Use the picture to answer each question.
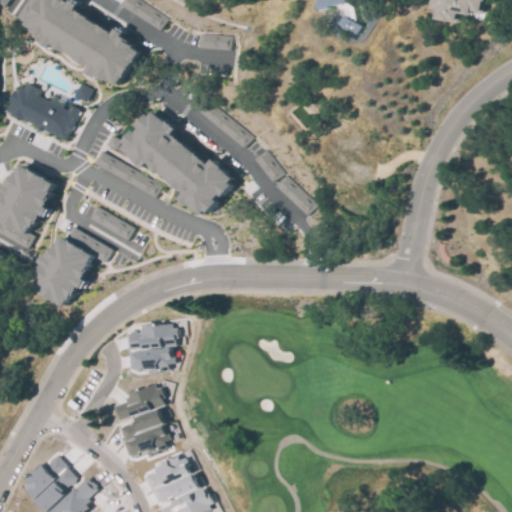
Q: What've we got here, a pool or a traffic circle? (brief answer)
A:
pool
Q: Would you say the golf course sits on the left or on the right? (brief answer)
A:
right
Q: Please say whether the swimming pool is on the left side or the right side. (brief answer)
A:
left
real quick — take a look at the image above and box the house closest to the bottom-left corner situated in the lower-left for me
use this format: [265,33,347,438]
[26,458,102,512]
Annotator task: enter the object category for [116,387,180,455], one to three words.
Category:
house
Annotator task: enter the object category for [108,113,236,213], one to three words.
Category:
building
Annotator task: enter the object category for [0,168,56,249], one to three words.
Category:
building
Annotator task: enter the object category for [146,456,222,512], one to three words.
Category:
house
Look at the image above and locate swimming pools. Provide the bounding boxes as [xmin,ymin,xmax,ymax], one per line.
[19,58,82,105]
